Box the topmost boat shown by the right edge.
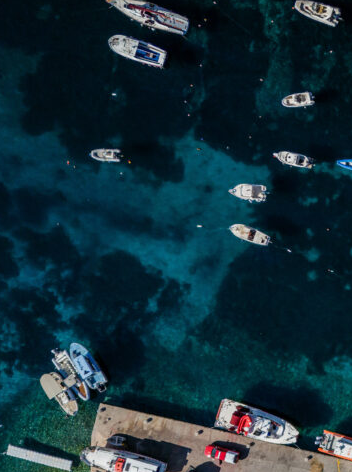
[284,0,342,28]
